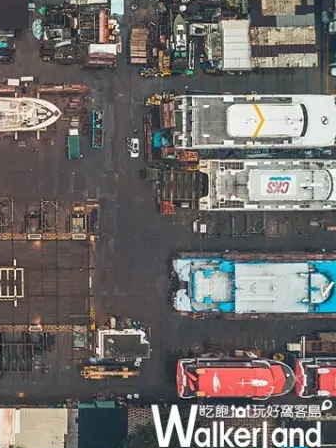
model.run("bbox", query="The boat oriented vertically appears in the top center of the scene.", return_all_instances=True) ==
[173,14,186,51]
